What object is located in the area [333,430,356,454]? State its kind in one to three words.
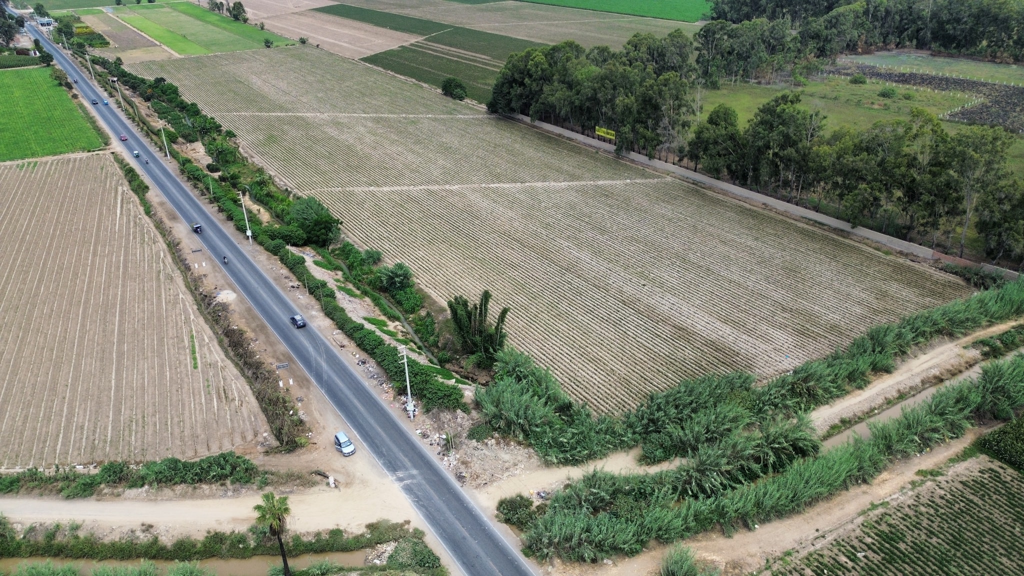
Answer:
car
